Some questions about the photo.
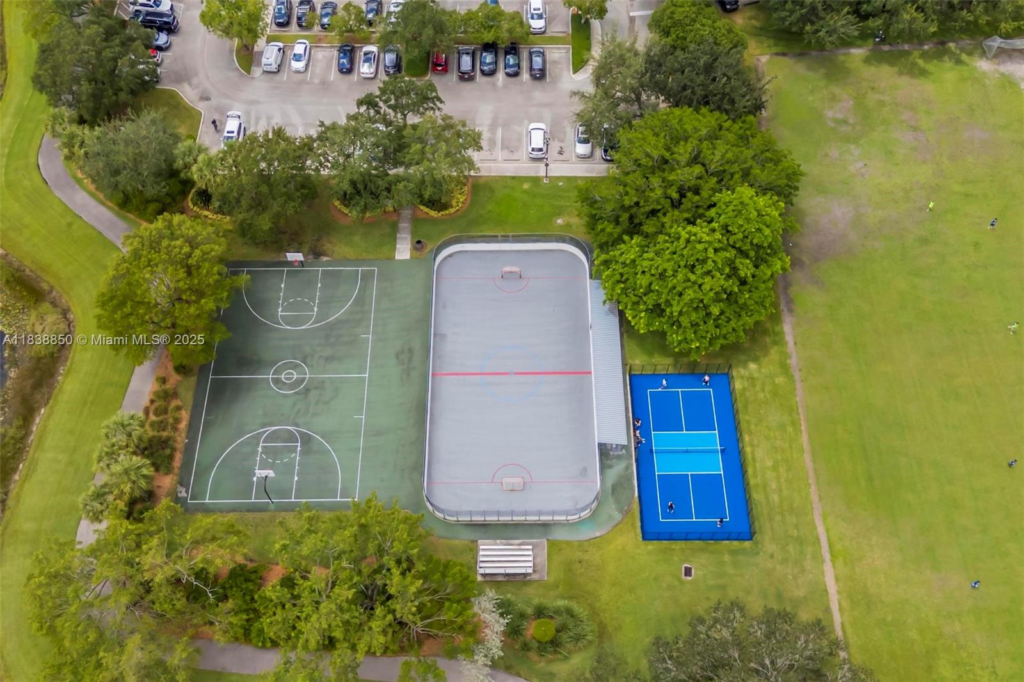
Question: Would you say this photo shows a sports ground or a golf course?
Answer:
sports ground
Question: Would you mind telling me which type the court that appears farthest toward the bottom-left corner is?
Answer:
basketball court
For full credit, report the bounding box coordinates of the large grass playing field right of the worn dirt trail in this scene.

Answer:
[763,42,1024,682]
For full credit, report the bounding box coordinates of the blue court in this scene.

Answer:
[629,373,752,540]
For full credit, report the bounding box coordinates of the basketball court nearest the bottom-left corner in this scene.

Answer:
[176,260,395,514]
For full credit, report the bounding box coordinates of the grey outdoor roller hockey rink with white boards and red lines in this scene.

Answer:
[421,232,603,523]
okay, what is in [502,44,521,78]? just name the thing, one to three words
car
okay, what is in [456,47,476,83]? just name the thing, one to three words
car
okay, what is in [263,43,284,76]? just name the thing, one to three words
vehicle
